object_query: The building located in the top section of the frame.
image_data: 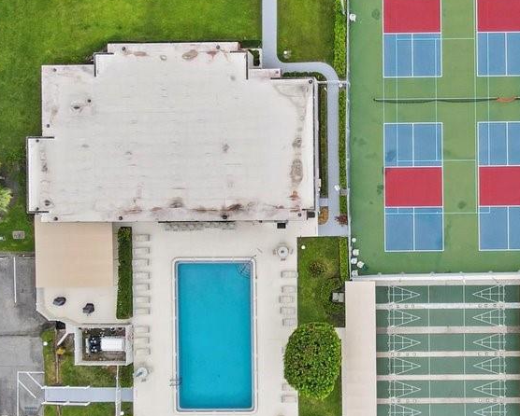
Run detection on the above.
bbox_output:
[26,42,319,223]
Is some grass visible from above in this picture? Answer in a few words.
Yes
